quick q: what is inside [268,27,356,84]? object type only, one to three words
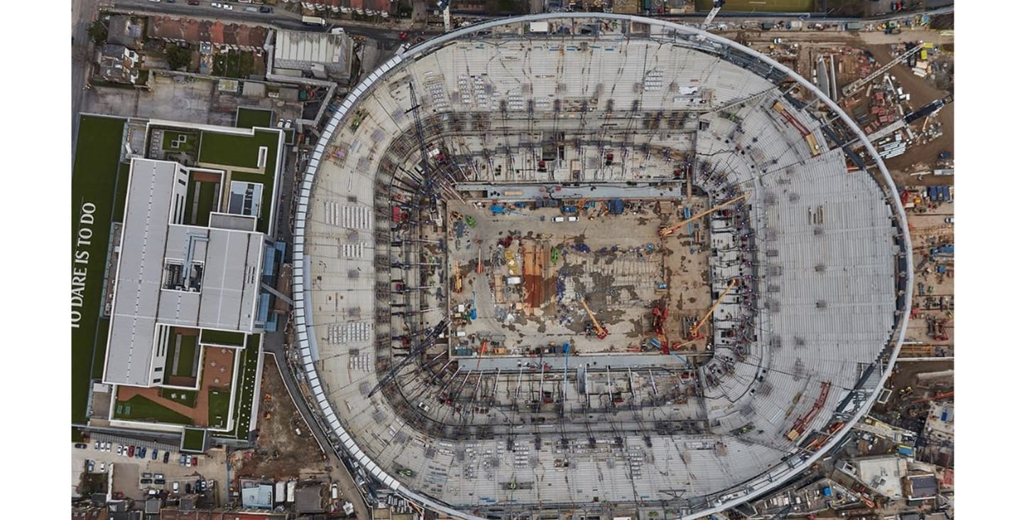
building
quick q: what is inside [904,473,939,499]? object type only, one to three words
house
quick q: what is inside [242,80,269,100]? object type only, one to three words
shed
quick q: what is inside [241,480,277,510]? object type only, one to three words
building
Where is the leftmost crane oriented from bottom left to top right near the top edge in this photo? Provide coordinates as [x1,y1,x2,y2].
[686,0,725,43]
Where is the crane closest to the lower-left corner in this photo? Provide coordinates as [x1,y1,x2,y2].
[368,309,462,396]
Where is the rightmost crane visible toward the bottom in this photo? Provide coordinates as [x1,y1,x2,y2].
[842,417,920,463]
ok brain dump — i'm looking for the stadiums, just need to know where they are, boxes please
[292,11,915,520]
